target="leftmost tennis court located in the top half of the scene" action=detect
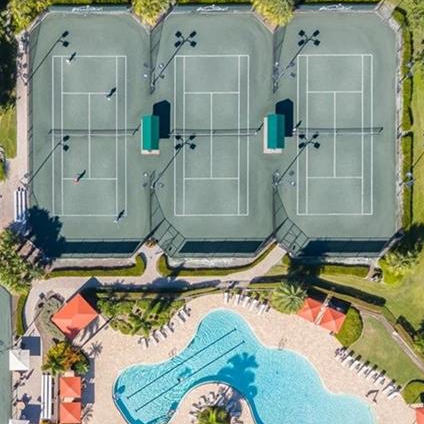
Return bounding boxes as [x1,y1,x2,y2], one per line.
[28,12,151,258]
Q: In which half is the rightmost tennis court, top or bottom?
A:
top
